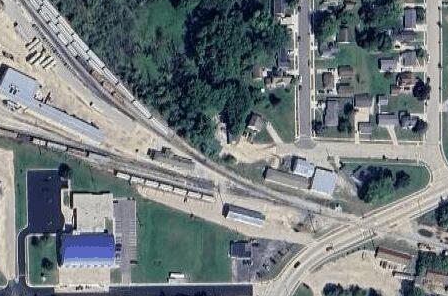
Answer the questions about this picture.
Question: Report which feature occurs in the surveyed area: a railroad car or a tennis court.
railroad car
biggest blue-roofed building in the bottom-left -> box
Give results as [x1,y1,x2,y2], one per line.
[61,232,116,268]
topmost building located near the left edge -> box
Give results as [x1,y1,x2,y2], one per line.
[0,67,37,104]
